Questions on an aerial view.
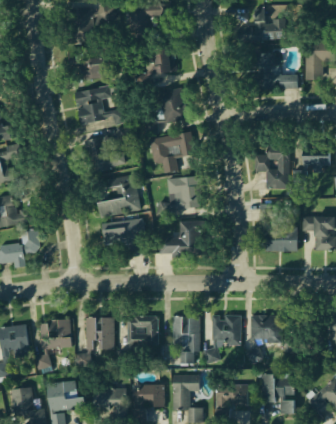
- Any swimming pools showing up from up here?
Yes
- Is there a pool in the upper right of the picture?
Yes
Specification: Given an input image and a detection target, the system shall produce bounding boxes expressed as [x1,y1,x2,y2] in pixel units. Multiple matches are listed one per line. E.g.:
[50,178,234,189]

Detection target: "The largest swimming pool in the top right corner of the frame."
[280,46,302,74]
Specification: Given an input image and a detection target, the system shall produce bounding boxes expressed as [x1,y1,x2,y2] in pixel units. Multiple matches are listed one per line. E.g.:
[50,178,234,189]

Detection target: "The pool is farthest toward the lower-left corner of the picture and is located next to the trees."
[135,370,160,384]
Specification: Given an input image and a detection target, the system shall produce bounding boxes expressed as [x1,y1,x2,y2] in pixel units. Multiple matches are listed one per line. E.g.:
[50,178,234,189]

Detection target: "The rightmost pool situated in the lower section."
[195,370,214,400]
